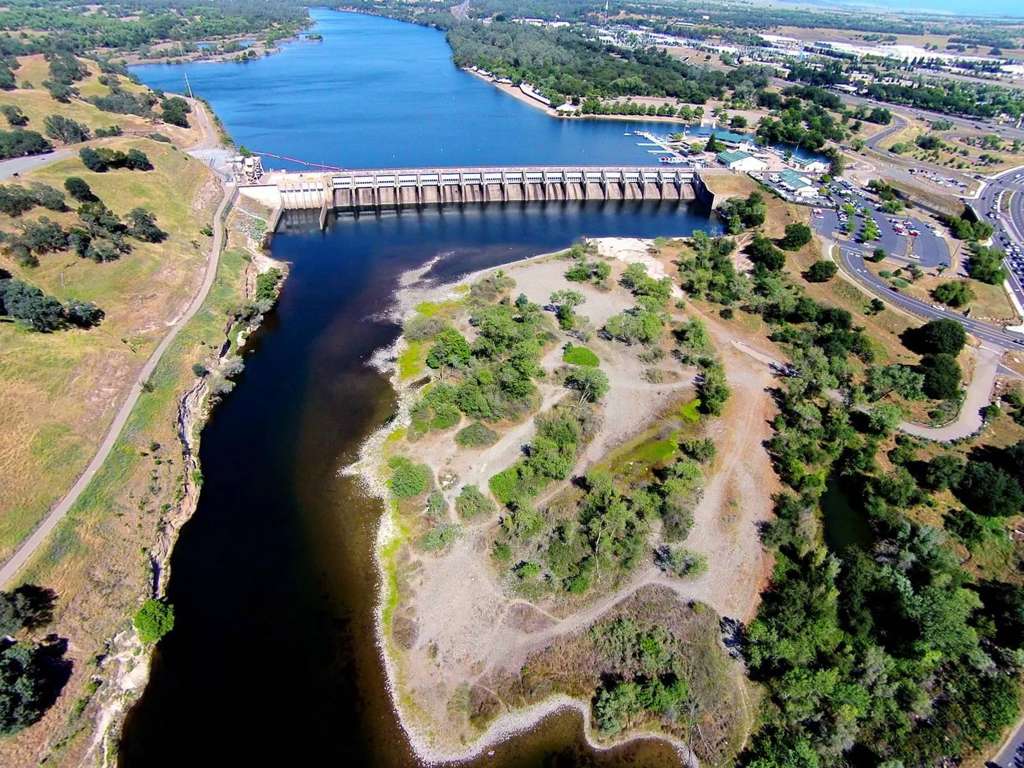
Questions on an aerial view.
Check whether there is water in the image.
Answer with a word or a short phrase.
Yes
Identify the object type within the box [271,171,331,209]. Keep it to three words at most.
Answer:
building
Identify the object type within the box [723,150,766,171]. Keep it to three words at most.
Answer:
building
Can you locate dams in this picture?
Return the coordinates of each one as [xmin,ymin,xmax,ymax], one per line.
[257,164,704,208]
